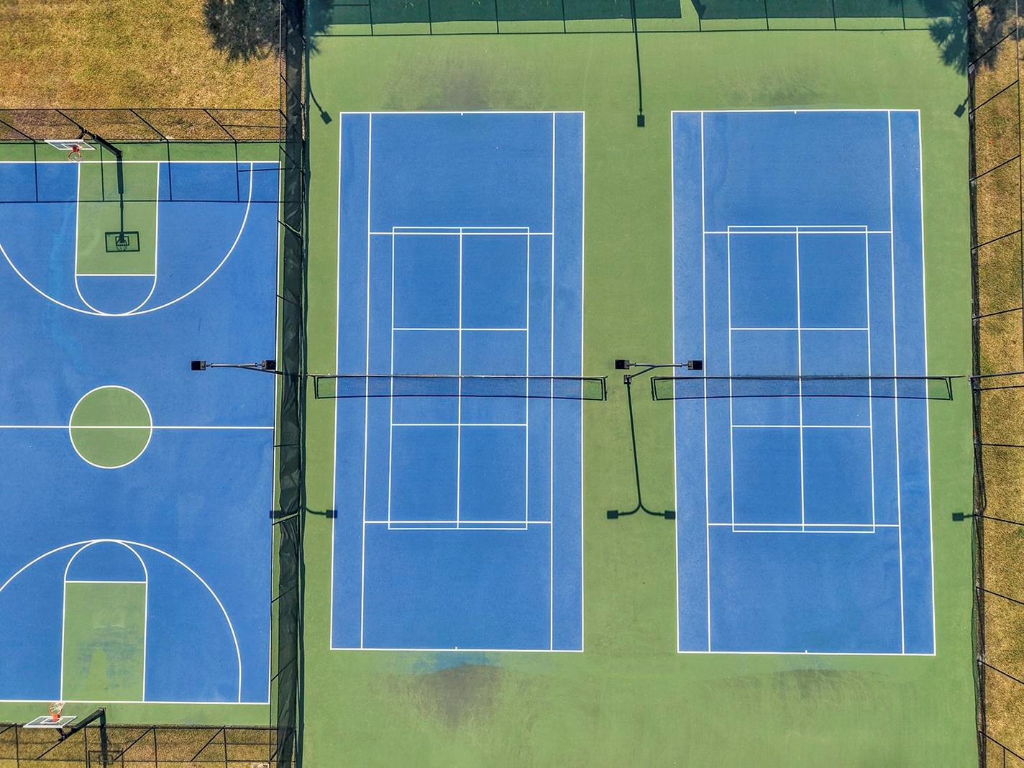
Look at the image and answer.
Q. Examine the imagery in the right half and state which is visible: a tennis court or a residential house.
tennis court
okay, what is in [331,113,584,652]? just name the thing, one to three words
tennis court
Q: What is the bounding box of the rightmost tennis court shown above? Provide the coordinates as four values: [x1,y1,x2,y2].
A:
[672,111,935,654]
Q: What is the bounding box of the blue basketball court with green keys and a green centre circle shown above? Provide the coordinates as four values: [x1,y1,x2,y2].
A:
[0,161,281,705]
